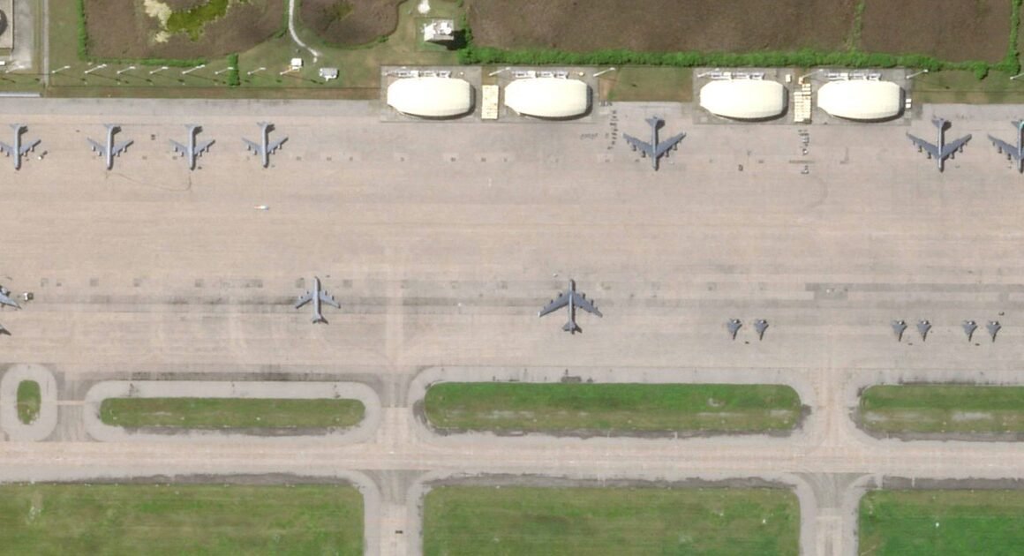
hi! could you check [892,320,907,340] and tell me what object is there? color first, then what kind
gray airplane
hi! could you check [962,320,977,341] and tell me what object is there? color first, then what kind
gray airplane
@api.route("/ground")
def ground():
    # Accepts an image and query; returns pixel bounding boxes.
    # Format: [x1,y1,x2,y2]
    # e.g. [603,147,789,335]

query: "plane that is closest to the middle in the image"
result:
[541,279,604,333]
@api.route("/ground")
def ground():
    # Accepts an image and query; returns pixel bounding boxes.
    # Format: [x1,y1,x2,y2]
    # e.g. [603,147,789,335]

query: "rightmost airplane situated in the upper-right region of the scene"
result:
[990,118,1024,173]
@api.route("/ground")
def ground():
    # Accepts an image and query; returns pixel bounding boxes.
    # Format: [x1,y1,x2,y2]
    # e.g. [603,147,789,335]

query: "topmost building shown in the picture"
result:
[424,22,455,42]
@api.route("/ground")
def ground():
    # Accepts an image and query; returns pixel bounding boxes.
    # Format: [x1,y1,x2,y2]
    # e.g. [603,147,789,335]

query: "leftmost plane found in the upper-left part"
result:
[0,122,40,170]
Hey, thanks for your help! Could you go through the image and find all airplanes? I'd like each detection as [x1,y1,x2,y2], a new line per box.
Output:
[892,320,907,340]
[170,122,215,170]
[909,116,972,172]
[87,122,132,170]
[0,122,40,170]
[243,120,288,168]
[727,318,742,339]
[990,118,1024,173]
[295,277,340,323]
[623,114,686,170]
[962,320,977,341]
[917,320,932,340]
[754,318,769,339]
[541,279,604,333]
[987,320,1001,341]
